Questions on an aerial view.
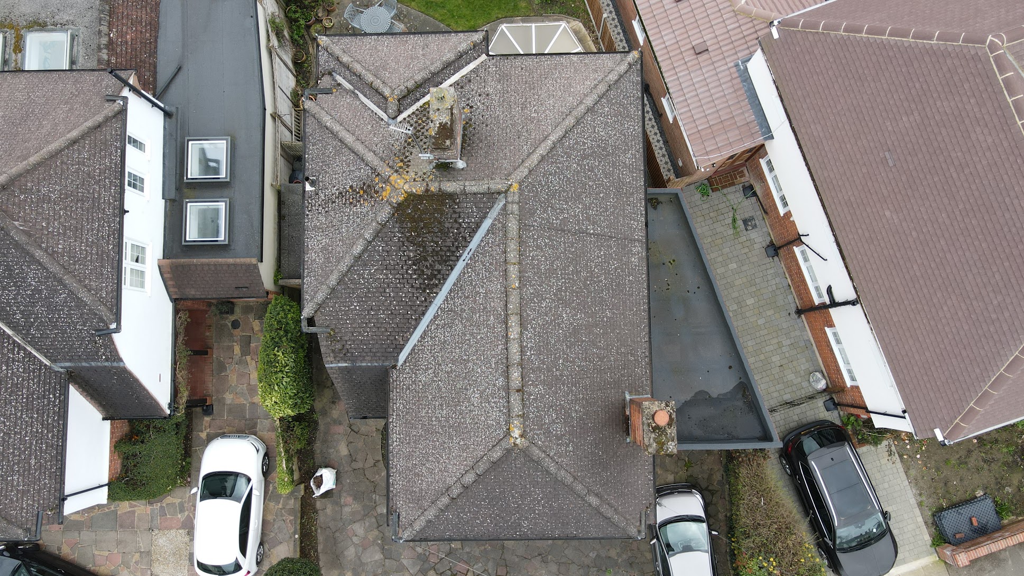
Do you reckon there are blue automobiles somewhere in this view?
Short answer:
No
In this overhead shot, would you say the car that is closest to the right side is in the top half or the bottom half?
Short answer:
bottom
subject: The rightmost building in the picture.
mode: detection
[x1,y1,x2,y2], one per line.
[736,0,1024,448]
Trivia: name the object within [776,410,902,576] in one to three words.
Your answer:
car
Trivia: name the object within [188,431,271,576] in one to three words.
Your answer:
car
